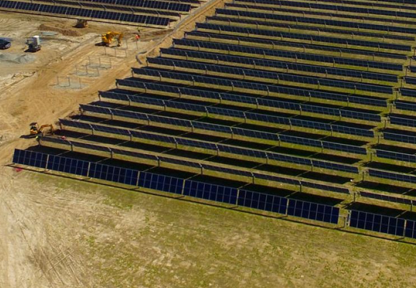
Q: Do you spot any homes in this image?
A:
No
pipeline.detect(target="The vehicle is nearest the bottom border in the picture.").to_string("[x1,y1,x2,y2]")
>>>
[30,121,59,135]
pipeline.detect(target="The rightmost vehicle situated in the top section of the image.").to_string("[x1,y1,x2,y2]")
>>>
[99,30,128,45]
